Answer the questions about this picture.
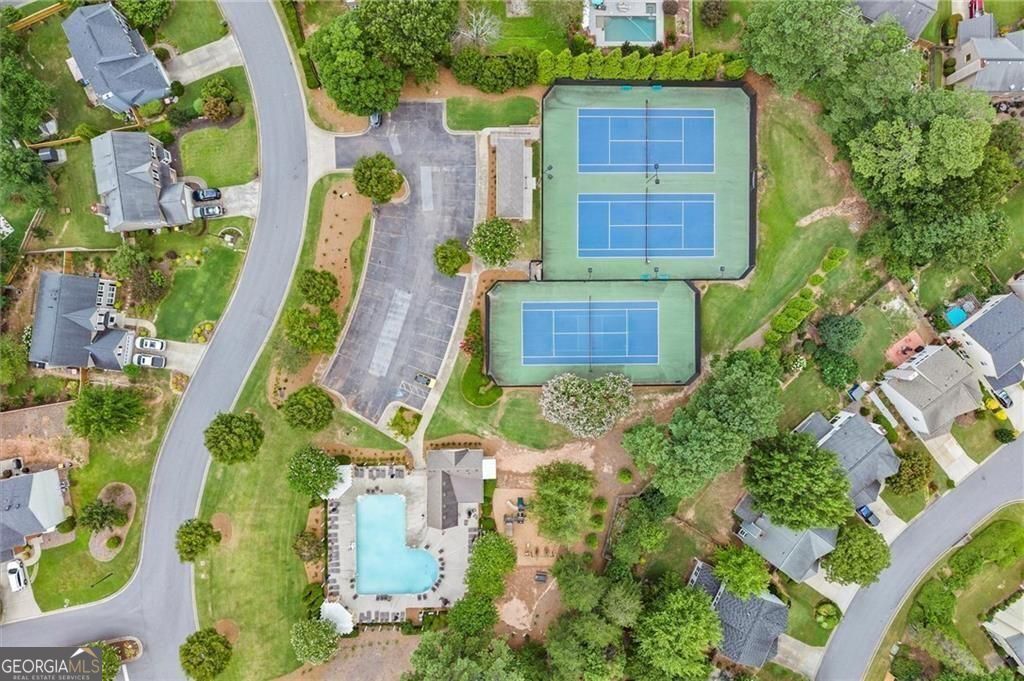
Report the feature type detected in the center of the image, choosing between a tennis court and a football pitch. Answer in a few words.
tennis court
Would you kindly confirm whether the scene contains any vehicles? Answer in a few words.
Yes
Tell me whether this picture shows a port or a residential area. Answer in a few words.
residential area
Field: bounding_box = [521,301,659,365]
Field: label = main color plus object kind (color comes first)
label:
blue tennis court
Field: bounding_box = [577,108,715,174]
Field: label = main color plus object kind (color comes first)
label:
blue tennis court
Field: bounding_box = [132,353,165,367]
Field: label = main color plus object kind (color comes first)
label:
white vehicle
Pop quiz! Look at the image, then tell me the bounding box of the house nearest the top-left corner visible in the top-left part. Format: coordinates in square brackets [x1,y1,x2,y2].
[60,0,182,118]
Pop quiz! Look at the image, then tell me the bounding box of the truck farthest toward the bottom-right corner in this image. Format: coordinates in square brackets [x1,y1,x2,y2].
[858,503,887,532]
